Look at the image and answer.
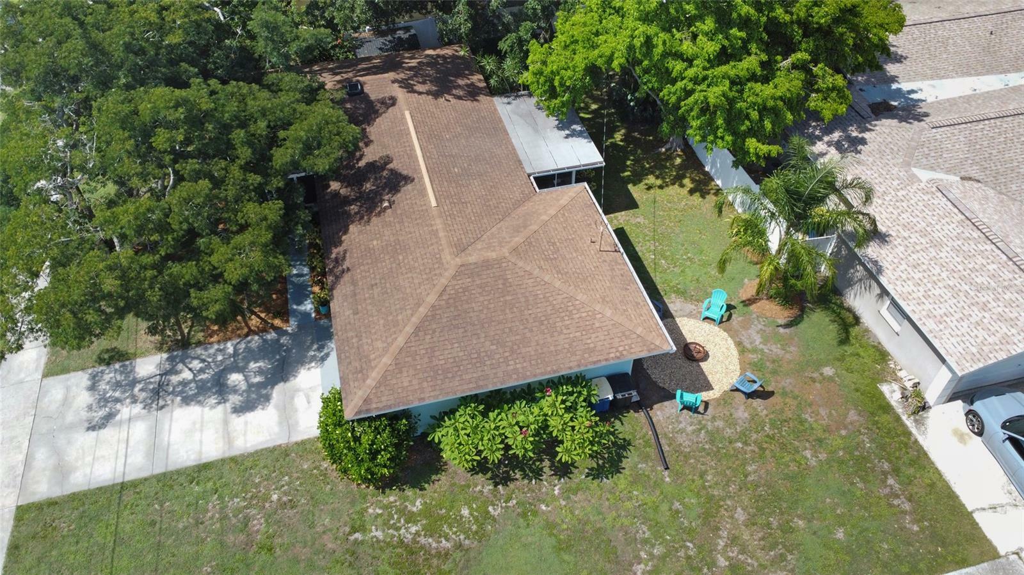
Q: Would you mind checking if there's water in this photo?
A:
No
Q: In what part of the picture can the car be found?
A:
bottom right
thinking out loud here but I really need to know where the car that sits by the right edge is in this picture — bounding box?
[955,379,1024,485]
